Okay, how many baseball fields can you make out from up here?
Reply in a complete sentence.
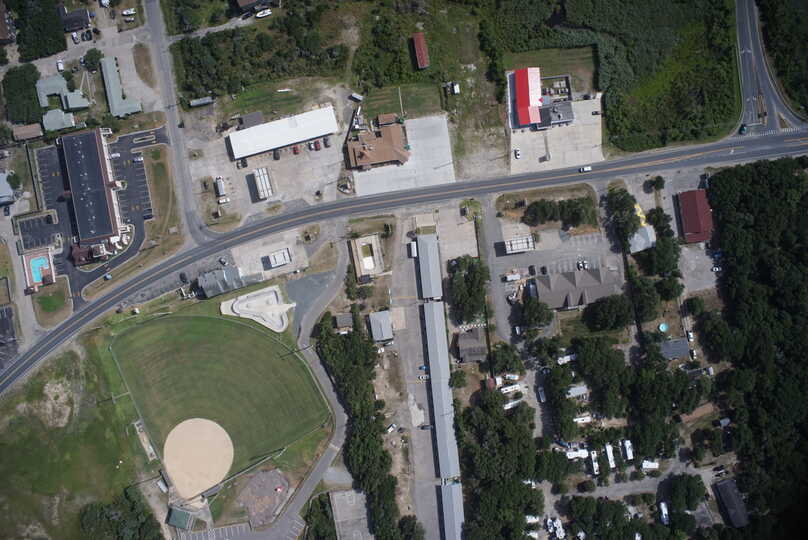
Altogether the scene contains 1 baseball field.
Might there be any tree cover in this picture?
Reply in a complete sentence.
Yes, some tree cover is visible.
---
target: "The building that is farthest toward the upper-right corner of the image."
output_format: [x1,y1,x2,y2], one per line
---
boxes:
[679,189,713,242]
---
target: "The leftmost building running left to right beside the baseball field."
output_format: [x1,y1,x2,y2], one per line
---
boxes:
[200,265,264,298]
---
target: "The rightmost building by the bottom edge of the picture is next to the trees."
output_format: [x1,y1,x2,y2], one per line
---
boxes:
[716,479,750,528]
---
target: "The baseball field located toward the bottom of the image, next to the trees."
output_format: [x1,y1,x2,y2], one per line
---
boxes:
[112,315,331,502]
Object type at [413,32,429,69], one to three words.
barn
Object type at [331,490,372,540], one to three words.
basketball court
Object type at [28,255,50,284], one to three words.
swimming pool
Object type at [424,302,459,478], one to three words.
building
